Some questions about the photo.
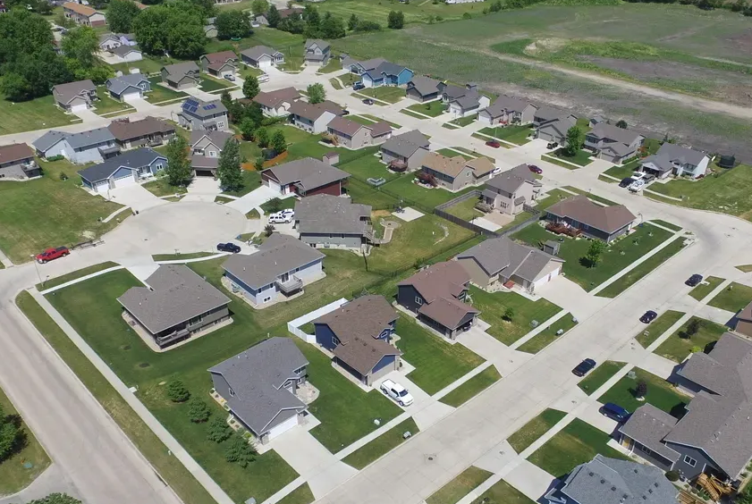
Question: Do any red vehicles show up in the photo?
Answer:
Yes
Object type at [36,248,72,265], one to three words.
vehicle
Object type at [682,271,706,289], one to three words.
car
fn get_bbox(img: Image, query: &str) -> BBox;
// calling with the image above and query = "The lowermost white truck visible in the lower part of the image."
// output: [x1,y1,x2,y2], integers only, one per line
[379,376,416,407]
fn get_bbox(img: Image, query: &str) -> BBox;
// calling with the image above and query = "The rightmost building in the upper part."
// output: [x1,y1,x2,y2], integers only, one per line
[638,143,709,182]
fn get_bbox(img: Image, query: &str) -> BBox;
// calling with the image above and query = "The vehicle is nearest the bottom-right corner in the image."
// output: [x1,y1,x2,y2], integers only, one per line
[596,400,633,424]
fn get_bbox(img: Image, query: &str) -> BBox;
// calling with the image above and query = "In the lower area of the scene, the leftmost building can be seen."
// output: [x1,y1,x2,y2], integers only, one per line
[116,265,231,359]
